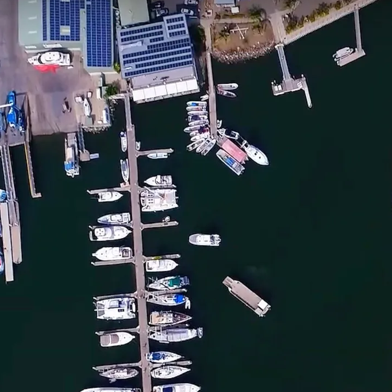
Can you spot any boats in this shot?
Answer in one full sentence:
Yes, you can see a boat in this photo.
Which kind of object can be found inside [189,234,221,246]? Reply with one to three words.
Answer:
boat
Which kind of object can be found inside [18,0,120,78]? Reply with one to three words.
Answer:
shed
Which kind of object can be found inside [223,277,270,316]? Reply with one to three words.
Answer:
ship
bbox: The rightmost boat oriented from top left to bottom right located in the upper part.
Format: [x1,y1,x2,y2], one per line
[238,138,270,165]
